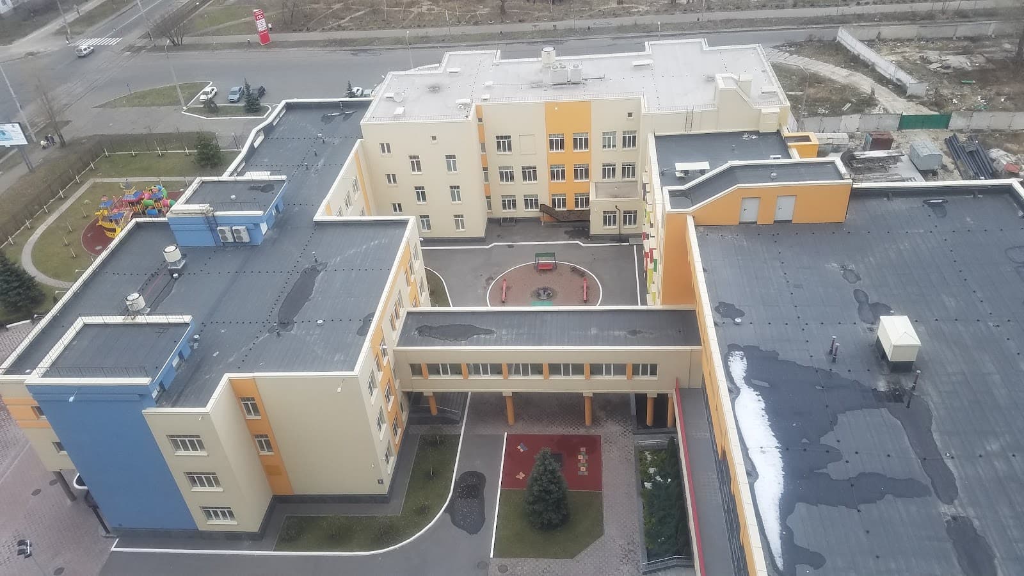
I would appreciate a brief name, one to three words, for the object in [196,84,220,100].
car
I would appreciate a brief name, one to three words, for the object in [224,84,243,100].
car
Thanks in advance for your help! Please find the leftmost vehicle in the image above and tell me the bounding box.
[72,43,94,56]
